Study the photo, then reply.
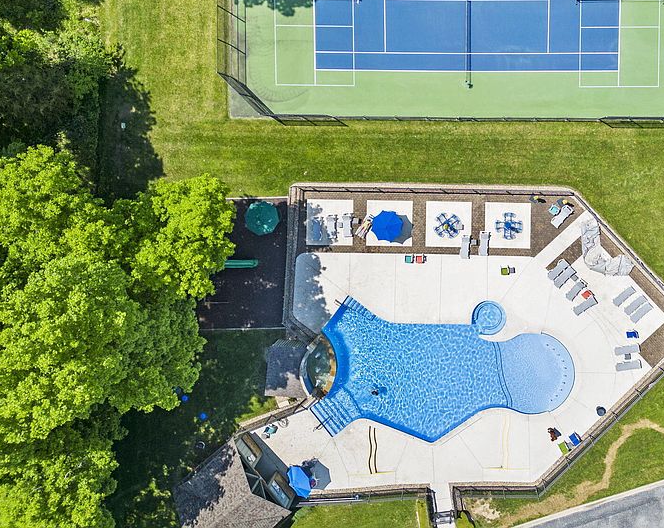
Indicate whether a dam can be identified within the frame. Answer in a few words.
No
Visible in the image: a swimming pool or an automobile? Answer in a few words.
swimming pool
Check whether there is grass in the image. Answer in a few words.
Yes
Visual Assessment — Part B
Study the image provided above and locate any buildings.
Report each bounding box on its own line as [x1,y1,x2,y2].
[265,340,310,401]
[172,429,299,528]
